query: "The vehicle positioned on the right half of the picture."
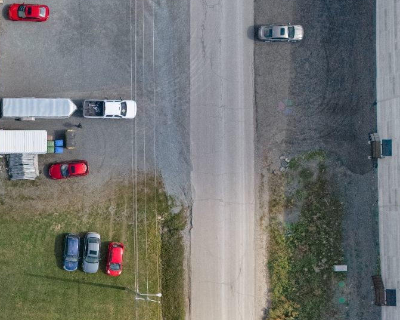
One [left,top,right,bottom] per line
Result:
[256,22,302,44]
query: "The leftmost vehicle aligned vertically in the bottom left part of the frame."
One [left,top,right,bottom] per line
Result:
[61,232,82,272]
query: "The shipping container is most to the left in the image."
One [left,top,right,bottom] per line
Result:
[0,130,48,156]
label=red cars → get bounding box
[47,160,89,180]
[8,2,49,23]
[105,239,125,276]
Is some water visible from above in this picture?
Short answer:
No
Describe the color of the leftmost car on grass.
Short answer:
blue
